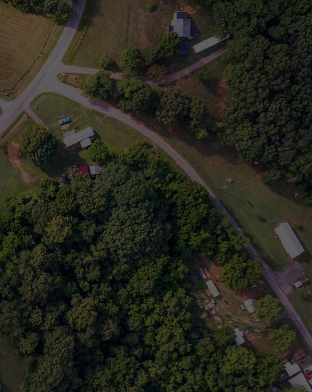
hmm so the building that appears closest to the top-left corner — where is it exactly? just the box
[63,127,94,148]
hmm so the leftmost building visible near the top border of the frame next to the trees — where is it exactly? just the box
[166,11,195,55]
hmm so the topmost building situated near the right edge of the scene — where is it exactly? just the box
[273,222,305,258]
